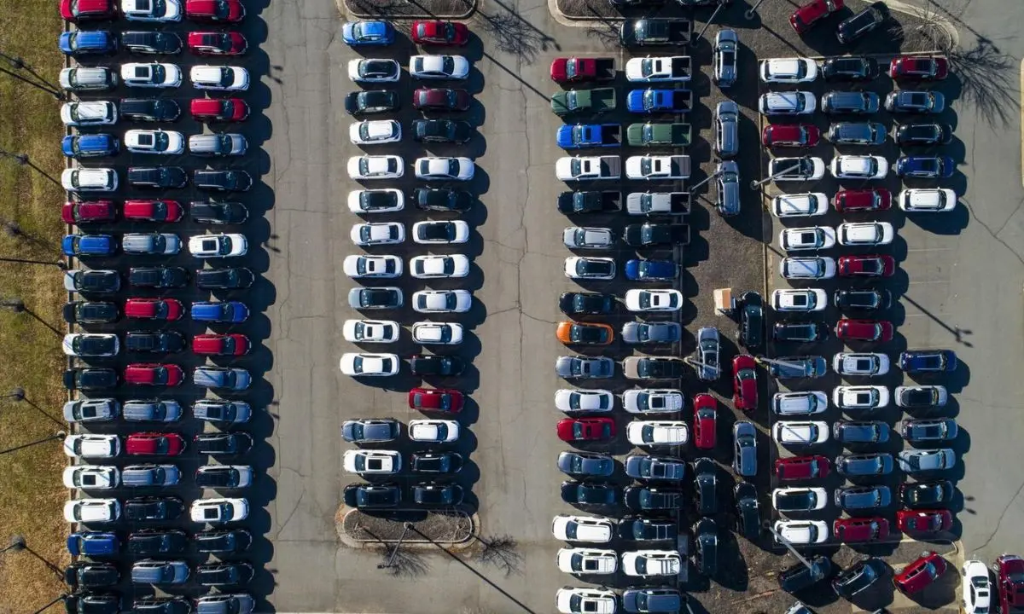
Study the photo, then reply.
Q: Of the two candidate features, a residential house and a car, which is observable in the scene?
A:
car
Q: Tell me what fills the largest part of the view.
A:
paved ground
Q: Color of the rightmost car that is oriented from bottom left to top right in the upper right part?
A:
black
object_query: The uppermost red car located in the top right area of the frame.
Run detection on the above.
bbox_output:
[786,0,845,33]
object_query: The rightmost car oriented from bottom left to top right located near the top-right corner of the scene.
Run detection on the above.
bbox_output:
[832,1,889,46]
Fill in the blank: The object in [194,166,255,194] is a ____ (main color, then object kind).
black car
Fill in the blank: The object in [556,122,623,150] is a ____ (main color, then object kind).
blue truck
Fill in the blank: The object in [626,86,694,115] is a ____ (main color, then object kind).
blue truck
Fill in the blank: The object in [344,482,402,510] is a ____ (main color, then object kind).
black car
